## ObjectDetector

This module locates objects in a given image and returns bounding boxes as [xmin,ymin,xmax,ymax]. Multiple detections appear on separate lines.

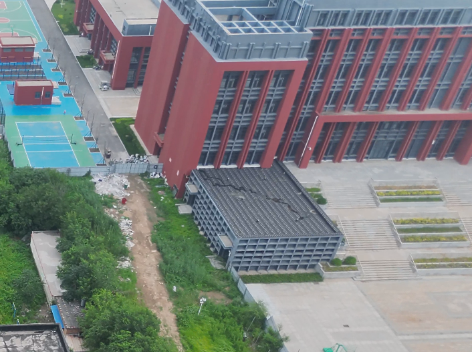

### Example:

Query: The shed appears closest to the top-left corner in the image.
[0,34,45,63]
